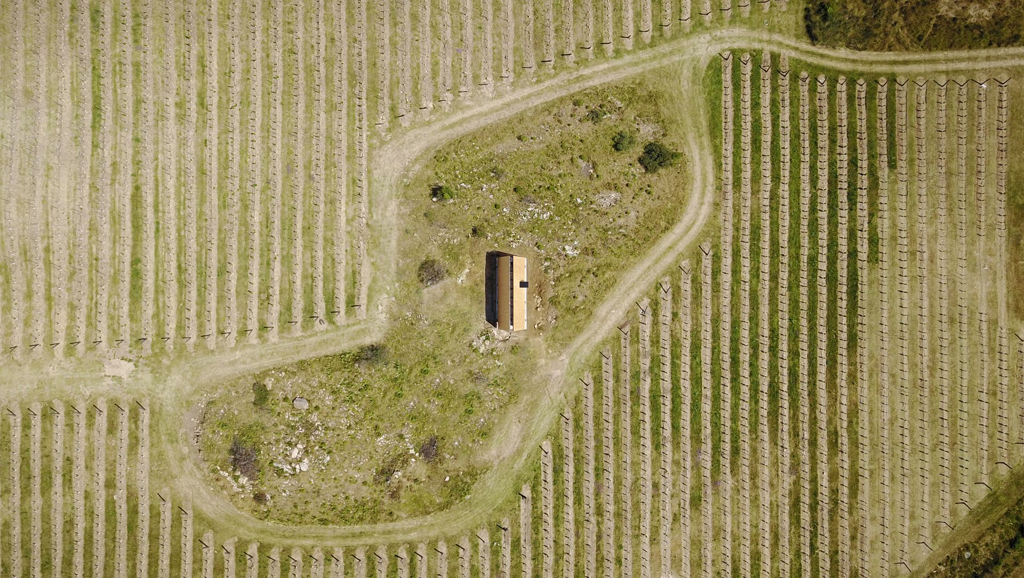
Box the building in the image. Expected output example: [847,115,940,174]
[496,256,529,331]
